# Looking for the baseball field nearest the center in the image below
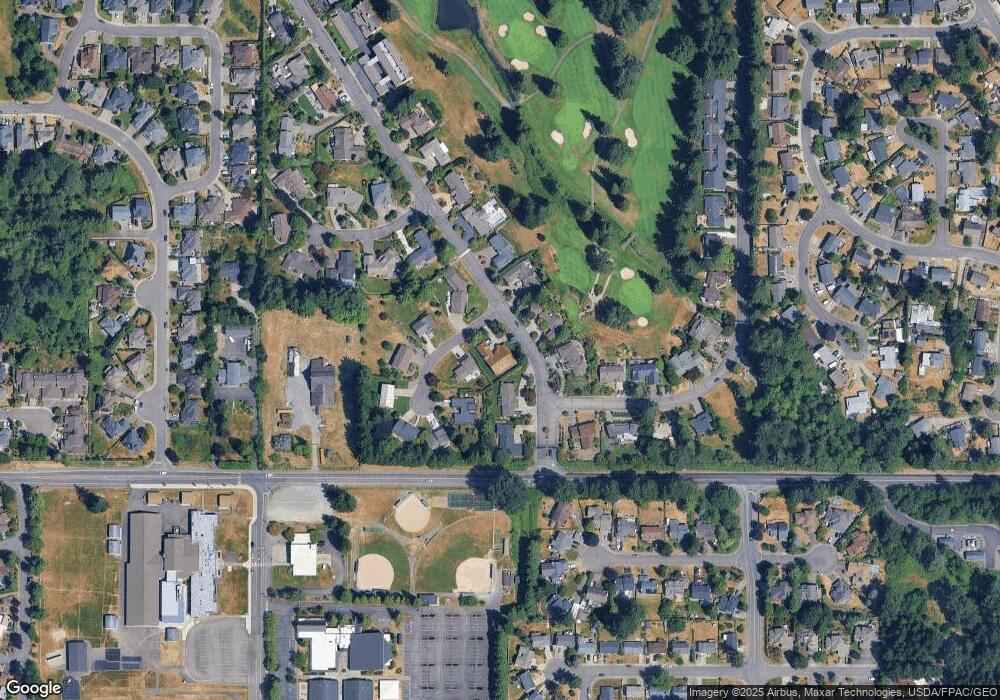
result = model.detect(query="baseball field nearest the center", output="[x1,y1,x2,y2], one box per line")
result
[390,490,434,531]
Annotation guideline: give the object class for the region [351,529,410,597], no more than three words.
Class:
baseball field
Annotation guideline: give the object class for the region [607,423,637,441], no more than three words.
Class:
house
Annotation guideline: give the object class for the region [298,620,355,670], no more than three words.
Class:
building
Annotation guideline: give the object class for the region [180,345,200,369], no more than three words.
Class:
house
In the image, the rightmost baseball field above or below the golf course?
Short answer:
below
